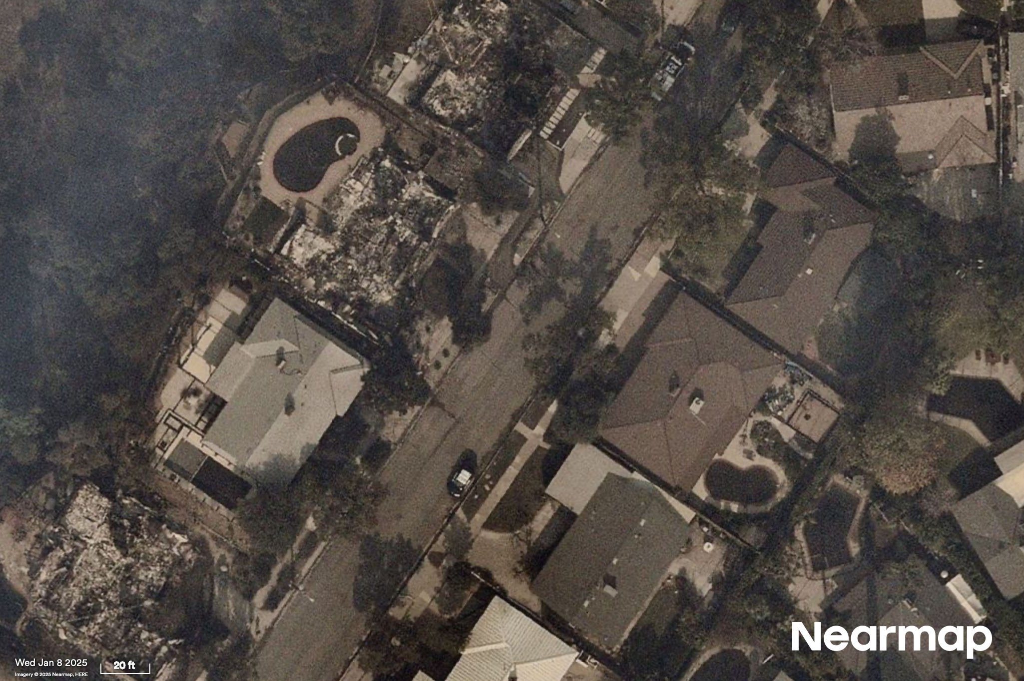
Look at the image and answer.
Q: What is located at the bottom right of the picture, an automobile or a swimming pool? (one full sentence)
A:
What appears at the bottom right of the picture is a swimming pool.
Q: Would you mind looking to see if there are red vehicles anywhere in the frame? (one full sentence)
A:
No, the frame has no red vehicle in it.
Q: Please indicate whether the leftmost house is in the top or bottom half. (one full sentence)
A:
The leftmost house is in the bottom half of the image.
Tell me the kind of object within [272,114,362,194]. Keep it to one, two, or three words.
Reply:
swimming pool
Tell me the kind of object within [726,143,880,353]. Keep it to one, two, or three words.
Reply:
house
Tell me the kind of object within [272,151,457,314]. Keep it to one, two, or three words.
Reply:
house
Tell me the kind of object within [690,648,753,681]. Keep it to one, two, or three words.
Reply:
swimming pool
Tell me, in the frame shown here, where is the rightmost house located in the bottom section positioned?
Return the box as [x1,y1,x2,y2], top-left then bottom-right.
[951,441,1024,600]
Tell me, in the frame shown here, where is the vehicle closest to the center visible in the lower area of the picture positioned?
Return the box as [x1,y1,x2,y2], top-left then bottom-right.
[446,460,478,501]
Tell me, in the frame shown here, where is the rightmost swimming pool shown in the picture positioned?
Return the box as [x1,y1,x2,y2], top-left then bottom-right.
[926,375,1024,447]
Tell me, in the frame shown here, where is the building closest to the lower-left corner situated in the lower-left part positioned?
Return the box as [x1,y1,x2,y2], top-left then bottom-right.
[28,475,196,675]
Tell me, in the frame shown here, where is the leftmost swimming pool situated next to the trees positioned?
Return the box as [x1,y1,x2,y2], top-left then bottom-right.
[162,438,253,510]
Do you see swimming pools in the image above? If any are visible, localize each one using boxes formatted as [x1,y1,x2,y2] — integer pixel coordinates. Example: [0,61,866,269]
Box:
[690,648,753,681]
[802,483,860,574]
[162,438,253,510]
[926,375,1024,447]
[272,114,362,194]
[703,457,780,508]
